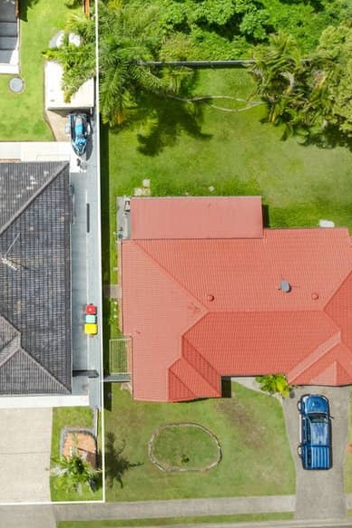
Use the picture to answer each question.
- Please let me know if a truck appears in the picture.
Yes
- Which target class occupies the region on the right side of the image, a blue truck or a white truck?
blue truck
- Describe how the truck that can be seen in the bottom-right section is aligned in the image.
from top to bottom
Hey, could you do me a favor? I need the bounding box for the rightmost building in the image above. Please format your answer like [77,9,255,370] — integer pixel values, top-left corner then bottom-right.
[121,195,352,403]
